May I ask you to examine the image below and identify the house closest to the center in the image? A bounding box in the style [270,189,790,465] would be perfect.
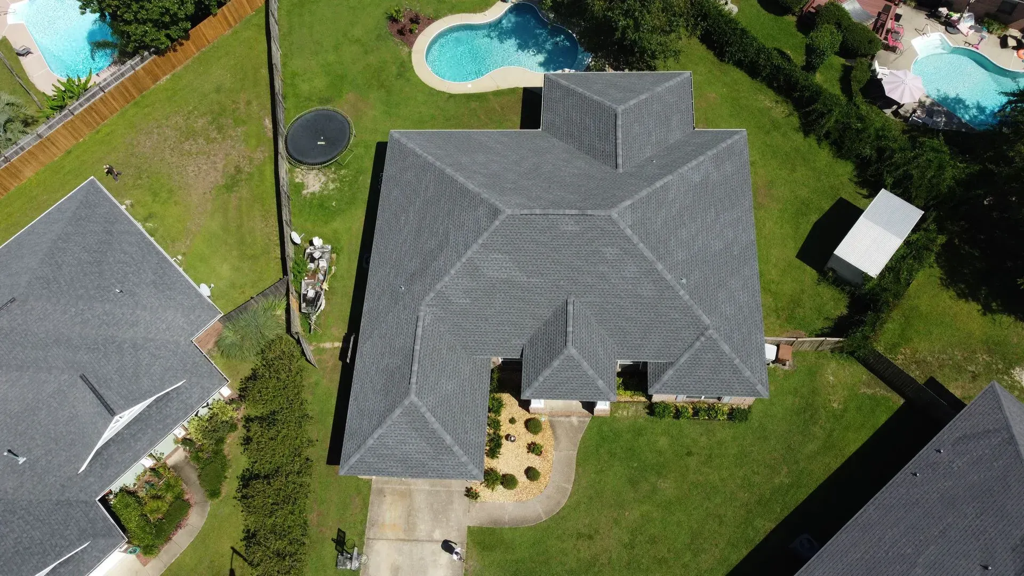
[339,70,770,483]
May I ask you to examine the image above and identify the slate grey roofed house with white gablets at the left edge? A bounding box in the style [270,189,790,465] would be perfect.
[0,177,243,576]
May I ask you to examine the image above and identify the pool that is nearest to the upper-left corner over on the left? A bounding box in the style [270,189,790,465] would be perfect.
[5,0,122,80]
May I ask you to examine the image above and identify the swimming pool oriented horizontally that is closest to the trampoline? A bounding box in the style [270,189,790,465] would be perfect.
[424,0,592,83]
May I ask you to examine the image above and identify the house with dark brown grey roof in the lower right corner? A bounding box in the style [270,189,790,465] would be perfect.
[794,382,1024,576]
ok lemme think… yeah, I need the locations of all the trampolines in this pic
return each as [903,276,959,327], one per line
[286,109,355,171]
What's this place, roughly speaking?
residential area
